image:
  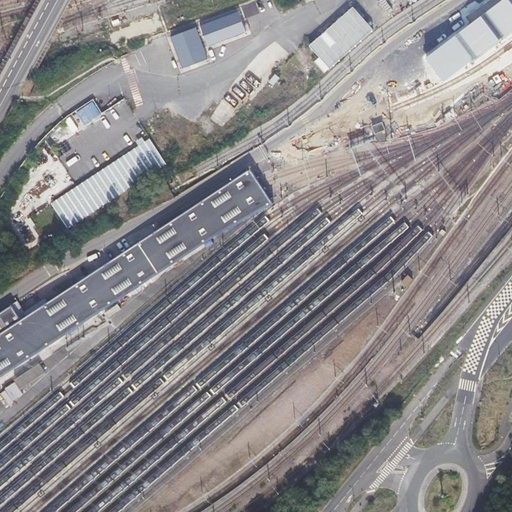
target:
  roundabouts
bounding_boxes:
[332,385,496,512]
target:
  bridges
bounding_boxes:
[0,0,70,128]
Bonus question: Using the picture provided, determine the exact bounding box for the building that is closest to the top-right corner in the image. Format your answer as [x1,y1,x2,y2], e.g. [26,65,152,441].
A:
[426,0,512,80]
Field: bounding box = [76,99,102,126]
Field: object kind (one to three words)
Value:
building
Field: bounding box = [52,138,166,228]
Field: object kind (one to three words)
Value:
shed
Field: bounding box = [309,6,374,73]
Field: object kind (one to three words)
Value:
building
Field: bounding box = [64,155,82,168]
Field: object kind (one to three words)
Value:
vehicle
